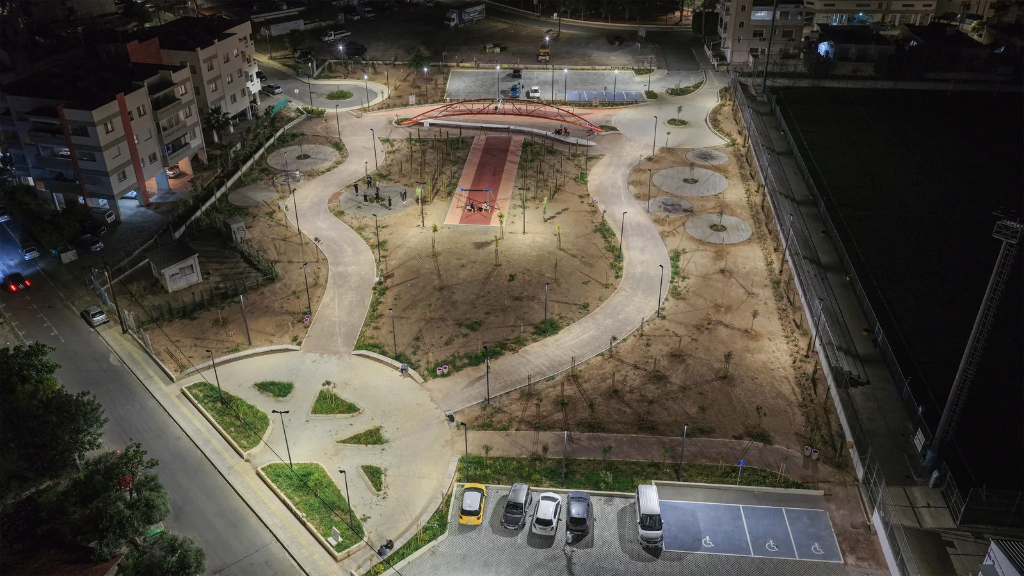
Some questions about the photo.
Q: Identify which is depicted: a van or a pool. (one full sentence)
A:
It is a van that can be seen here.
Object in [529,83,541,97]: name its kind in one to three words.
vehicle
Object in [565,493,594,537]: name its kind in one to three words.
car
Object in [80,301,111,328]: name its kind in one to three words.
car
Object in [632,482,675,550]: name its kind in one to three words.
van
